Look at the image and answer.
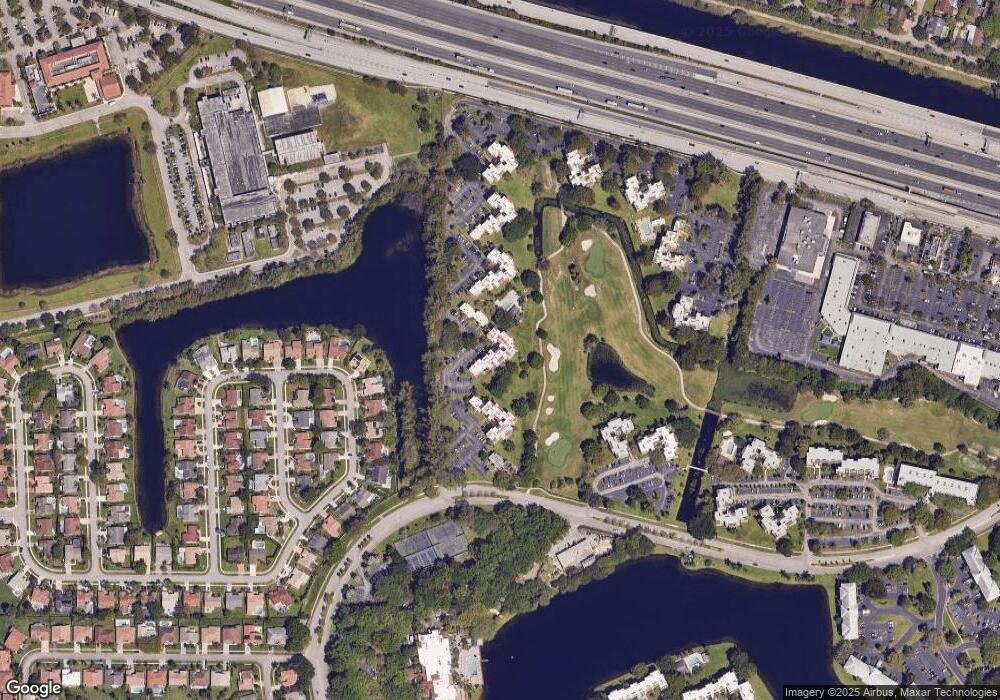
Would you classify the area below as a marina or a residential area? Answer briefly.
residential area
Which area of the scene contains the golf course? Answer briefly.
right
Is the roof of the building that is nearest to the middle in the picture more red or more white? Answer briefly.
white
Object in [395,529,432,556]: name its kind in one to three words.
tennis court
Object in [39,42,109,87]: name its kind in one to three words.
building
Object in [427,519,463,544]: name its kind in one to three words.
tennis court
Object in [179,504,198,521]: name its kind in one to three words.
house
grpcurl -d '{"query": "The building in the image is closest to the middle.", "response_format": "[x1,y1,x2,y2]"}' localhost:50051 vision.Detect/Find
[470,328,518,377]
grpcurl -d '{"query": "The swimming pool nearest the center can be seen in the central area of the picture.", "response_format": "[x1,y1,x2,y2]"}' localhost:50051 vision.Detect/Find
[495,290,522,321]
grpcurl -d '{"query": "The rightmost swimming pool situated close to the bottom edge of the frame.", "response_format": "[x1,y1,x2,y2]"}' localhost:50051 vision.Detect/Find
[680,652,707,675]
